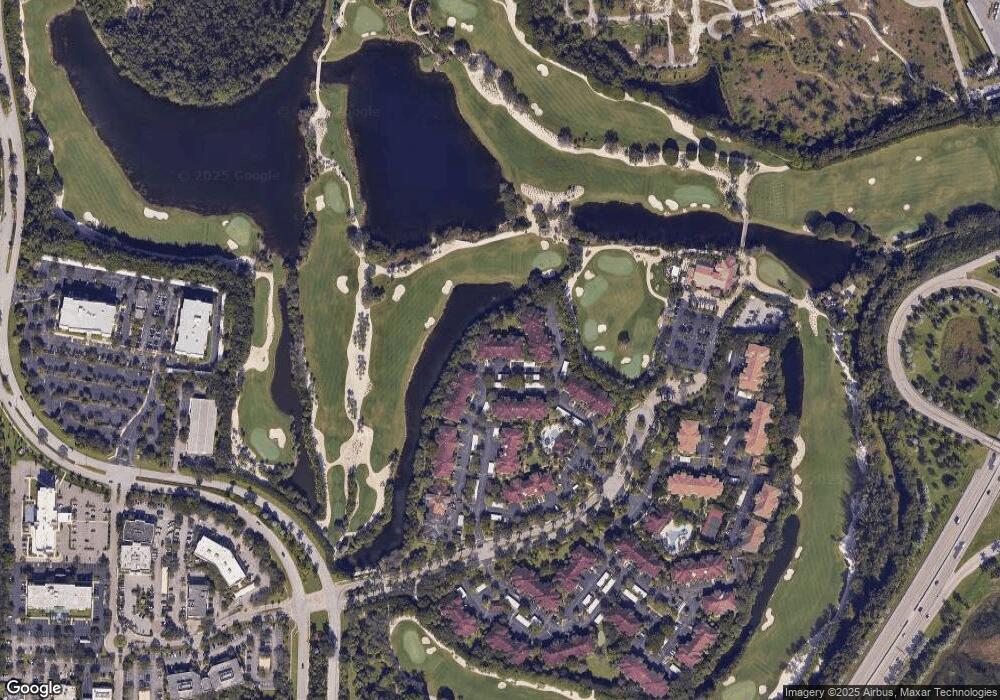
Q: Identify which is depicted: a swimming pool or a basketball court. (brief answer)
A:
swimming pool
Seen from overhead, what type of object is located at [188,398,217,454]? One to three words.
building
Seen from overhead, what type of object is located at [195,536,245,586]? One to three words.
building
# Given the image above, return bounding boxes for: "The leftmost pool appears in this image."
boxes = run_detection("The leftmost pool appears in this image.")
[540,424,562,455]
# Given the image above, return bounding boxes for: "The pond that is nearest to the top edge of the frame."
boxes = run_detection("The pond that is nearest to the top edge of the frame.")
[630,66,734,119]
